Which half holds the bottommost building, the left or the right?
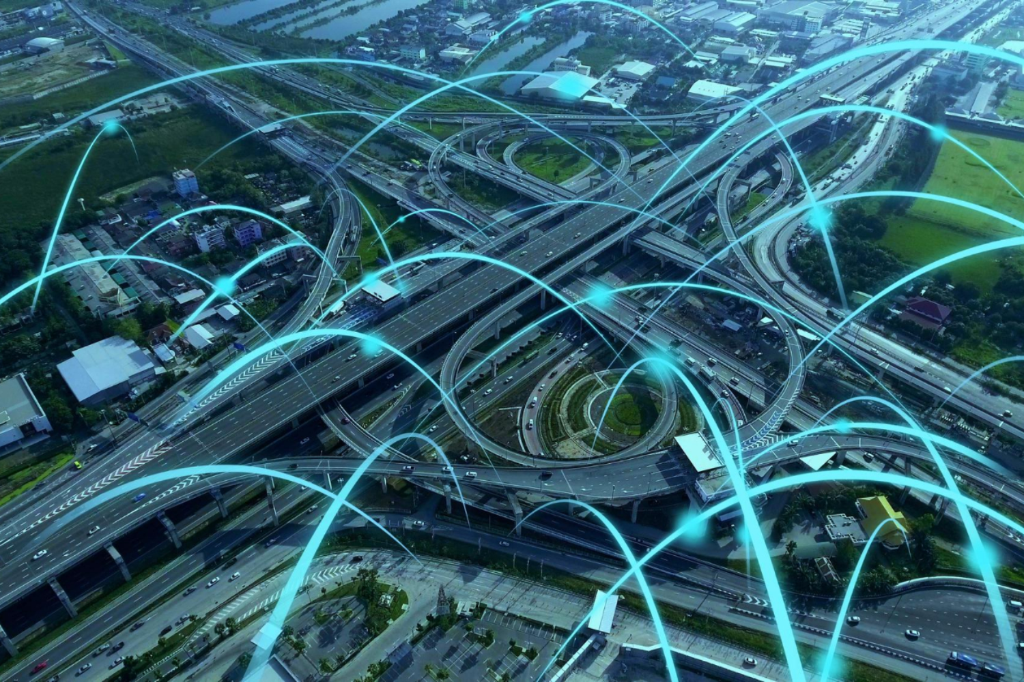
left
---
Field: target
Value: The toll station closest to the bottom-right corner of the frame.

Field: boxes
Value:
[674,432,724,479]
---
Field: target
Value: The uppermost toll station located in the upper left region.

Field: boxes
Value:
[258,124,286,141]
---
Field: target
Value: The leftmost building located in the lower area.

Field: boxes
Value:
[0,371,52,468]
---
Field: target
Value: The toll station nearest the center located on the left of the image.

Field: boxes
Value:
[362,281,402,309]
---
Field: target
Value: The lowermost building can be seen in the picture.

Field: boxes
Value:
[233,654,303,682]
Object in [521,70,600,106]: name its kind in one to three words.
building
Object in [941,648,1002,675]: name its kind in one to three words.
truck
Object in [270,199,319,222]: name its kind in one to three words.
shed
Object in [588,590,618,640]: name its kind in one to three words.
toll station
